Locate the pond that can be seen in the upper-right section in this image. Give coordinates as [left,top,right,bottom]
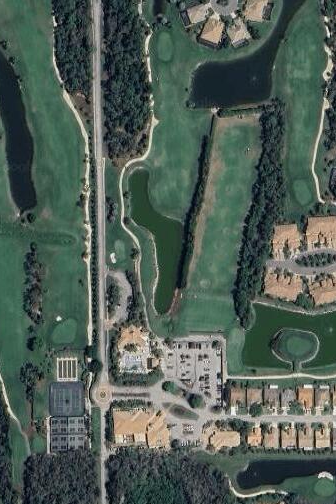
[189,0,305,108]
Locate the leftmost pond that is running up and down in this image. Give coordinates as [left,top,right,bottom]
[0,51,37,213]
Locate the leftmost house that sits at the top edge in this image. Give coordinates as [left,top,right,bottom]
[184,3,211,23]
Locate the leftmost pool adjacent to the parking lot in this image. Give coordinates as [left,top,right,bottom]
[120,348,149,373]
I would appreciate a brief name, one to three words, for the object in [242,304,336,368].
pond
